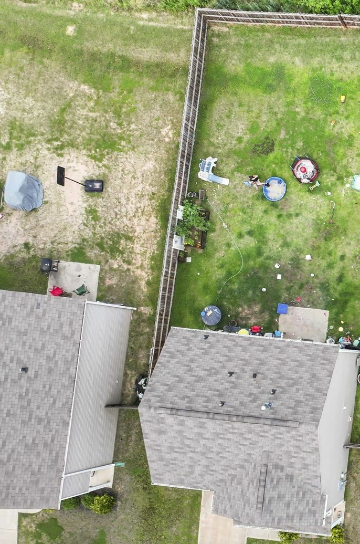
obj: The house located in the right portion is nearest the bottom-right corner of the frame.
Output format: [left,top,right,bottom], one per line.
[142,326,359,535]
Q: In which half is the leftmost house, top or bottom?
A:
bottom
